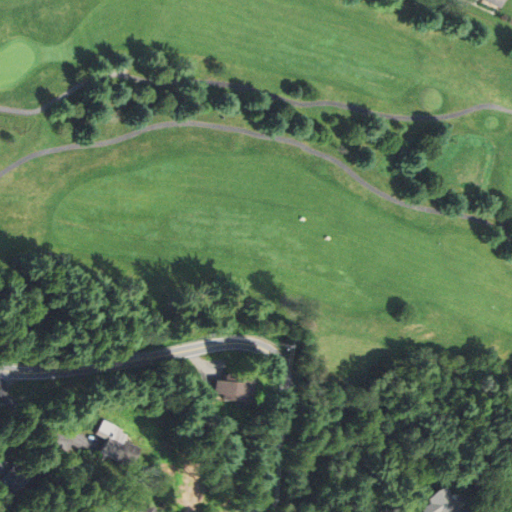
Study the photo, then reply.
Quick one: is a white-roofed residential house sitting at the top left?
No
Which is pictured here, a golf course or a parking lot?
golf course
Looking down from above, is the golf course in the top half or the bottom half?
top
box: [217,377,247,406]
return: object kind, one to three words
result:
house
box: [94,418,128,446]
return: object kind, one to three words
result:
house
